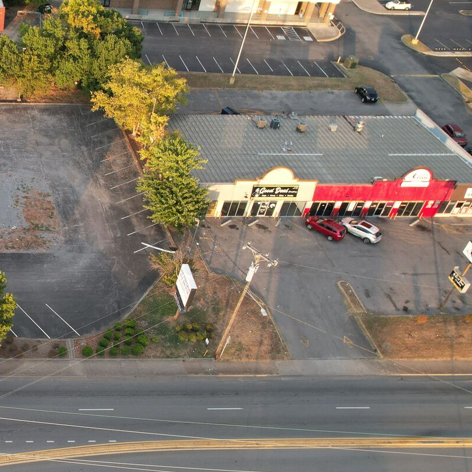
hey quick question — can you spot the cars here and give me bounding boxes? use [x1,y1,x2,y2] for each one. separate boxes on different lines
[386,1,412,10]
[353,82,380,100]
[442,121,469,142]
[344,215,387,242]
[308,214,352,239]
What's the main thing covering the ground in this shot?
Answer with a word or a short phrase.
paved ground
